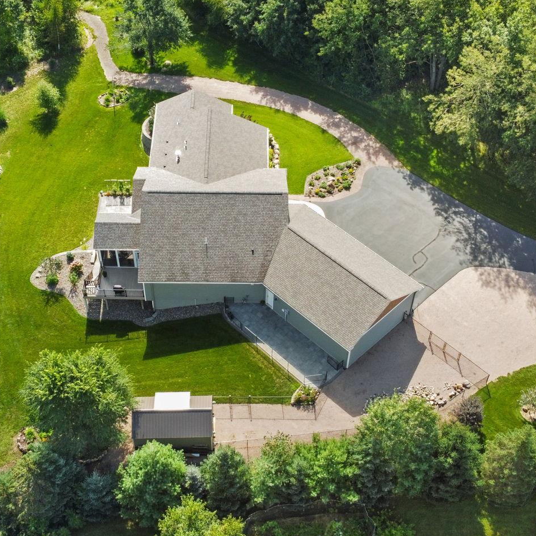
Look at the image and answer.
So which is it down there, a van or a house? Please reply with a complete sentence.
Looking from above, you can make out a house.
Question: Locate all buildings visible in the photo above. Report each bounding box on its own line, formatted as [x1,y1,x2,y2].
[81,88,423,369]
[130,389,214,453]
